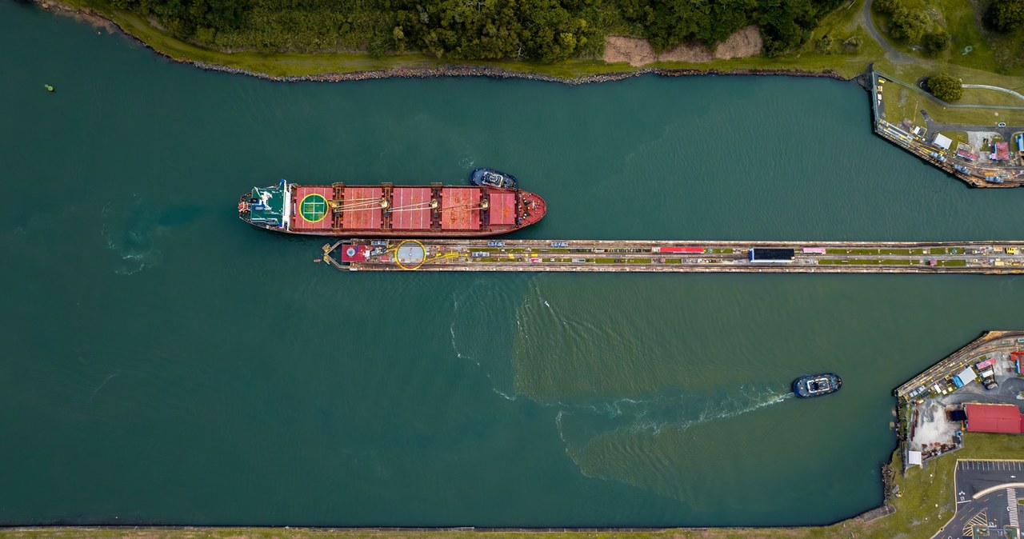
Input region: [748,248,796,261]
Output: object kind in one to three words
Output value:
building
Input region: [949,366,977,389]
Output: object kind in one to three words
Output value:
building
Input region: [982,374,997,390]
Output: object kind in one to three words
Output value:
vehicle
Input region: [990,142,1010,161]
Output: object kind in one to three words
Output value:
house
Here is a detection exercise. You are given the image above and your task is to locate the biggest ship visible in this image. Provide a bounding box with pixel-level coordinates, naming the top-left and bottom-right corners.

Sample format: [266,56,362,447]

[236,180,547,235]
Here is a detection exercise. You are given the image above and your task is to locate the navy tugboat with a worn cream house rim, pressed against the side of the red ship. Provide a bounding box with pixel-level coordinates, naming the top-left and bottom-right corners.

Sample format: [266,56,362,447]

[470,166,519,188]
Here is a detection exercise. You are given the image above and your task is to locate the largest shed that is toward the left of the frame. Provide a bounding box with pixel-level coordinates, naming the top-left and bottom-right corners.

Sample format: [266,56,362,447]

[342,244,367,262]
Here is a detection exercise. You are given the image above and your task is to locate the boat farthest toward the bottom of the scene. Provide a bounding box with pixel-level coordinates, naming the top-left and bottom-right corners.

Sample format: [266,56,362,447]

[792,374,844,398]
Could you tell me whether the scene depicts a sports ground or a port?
port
